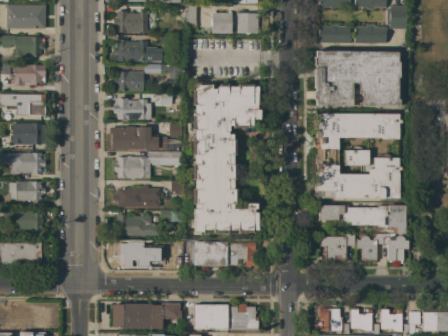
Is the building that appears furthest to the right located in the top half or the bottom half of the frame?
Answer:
bottom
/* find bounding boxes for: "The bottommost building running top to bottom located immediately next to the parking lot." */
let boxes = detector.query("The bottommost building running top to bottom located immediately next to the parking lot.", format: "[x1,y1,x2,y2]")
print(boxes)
[195,84,260,231]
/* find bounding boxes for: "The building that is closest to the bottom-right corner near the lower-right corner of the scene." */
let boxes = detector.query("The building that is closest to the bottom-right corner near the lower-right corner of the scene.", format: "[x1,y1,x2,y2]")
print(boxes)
[423,312,448,332]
